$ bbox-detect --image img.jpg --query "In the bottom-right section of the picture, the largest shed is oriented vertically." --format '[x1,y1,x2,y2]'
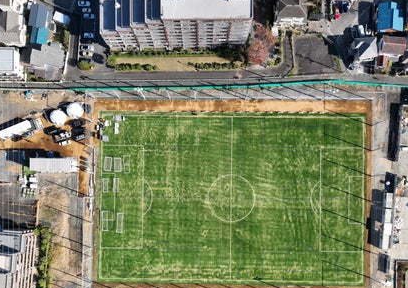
[380,193,392,249]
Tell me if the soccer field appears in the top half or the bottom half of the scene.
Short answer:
bottom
